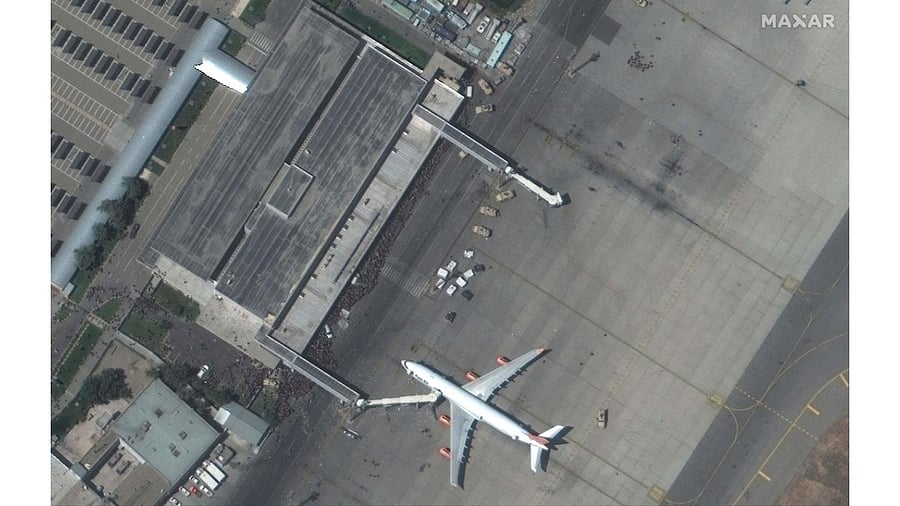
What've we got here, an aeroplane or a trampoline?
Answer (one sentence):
Of the two, only an aeroplane appears.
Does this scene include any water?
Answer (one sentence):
No, the scene doesn't show any water.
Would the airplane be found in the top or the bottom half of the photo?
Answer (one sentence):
You can find the airplane in the bottom half.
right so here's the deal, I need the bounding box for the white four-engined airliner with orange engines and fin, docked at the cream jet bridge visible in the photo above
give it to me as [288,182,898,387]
[401,349,562,487]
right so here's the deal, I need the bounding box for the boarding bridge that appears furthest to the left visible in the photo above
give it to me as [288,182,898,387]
[356,388,446,411]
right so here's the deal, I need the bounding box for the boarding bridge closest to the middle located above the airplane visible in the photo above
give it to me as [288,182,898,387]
[504,165,564,207]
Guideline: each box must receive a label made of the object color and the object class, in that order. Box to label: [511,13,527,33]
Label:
gray vehicle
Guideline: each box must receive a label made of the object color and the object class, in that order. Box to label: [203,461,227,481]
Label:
white vehicle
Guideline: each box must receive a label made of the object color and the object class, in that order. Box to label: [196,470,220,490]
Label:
white vehicle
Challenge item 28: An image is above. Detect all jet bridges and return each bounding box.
[504,165,564,207]
[356,388,446,411]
